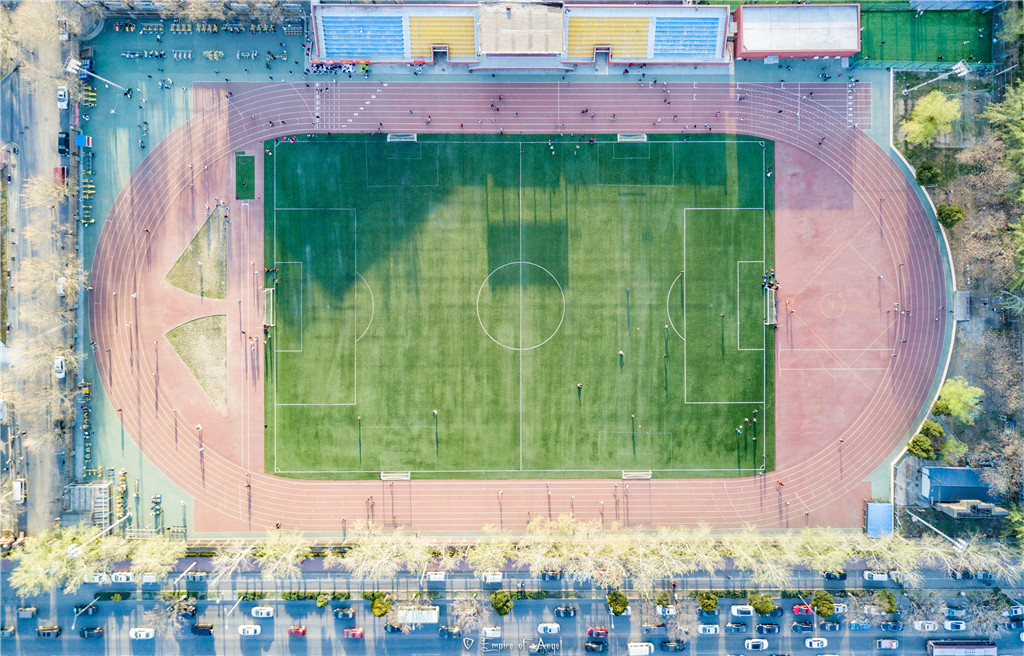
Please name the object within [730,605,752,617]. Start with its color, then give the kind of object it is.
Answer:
white vehicle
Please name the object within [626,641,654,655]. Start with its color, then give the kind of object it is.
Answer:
white vehicle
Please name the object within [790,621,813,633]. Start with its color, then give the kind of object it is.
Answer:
blue vehicle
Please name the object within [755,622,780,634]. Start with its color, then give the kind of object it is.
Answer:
blue vehicle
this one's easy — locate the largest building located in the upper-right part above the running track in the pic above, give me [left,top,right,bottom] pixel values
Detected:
[734,4,859,67]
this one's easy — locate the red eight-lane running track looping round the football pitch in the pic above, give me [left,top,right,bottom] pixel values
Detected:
[88,82,947,531]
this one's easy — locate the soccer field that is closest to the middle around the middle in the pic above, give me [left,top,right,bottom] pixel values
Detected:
[264,133,774,480]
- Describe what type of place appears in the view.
sports ground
